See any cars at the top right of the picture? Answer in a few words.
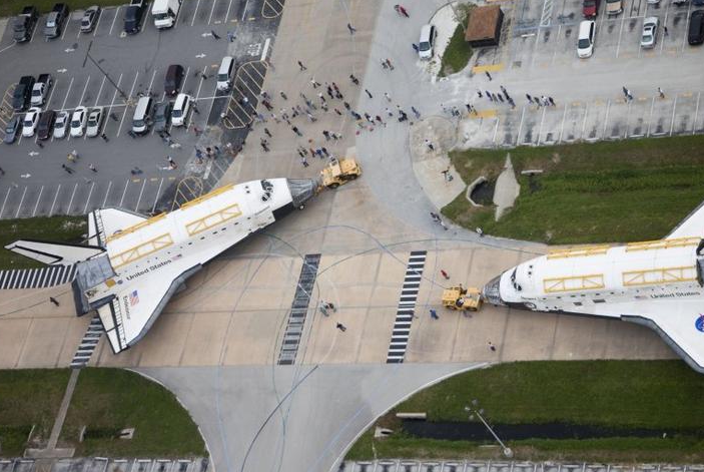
Yes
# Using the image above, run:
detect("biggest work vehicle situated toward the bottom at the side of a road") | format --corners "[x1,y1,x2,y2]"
[439,287,484,313]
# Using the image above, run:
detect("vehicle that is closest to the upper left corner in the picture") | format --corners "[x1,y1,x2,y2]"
[16,7,39,43]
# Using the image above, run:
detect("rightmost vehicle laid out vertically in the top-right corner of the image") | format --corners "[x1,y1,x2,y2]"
[686,8,704,47]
